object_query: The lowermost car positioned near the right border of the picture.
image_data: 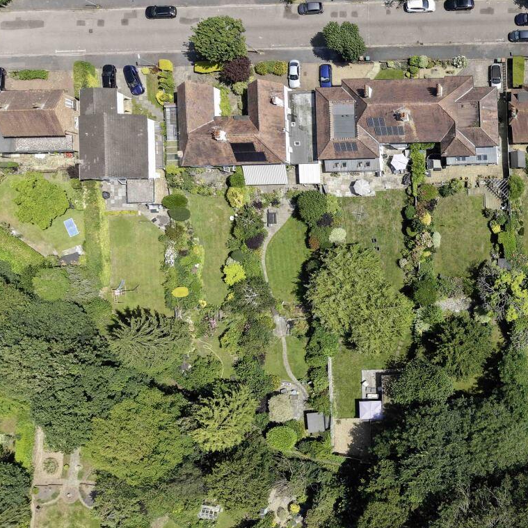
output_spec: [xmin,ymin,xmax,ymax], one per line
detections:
[489,63,503,90]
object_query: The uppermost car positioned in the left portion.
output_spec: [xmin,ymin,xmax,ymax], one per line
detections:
[147,2,178,20]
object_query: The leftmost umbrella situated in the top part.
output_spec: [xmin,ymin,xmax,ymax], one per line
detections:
[353,179,370,197]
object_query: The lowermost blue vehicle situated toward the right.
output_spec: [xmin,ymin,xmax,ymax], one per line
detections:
[318,63,332,87]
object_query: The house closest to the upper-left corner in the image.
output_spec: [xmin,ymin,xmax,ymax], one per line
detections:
[0,89,79,155]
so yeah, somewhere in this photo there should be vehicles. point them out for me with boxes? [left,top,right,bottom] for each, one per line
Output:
[489,63,503,90]
[444,0,475,12]
[299,0,325,15]
[404,0,436,13]
[287,60,301,88]
[104,63,117,88]
[508,27,528,42]
[318,63,332,87]
[515,10,528,26]
[147,2,178,20]
[124,64,146,96]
